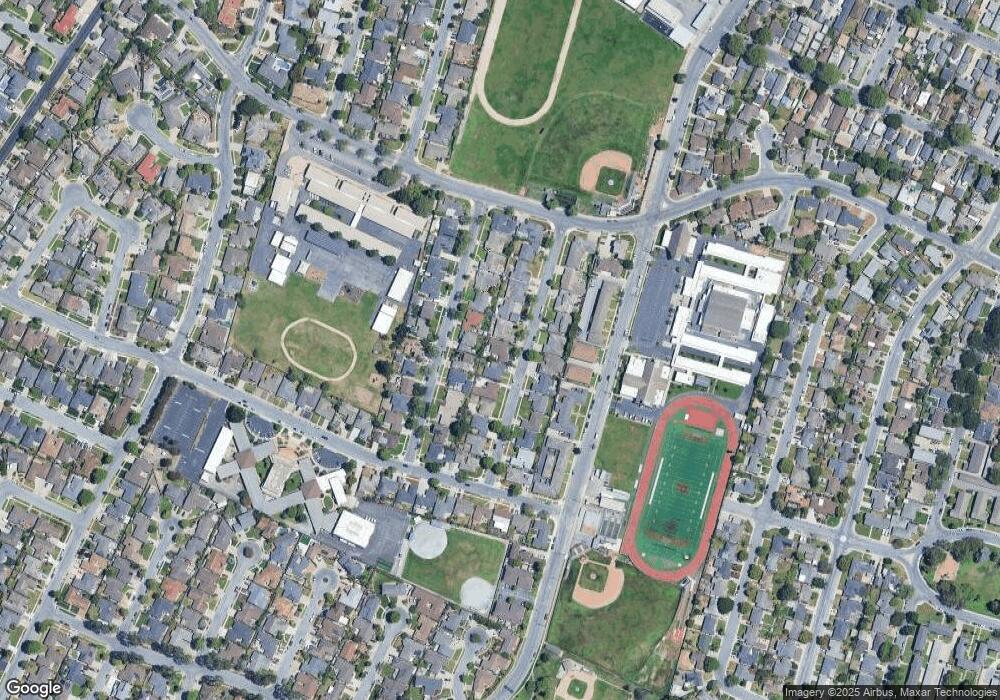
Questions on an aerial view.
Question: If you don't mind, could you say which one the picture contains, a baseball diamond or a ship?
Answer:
baseball diamond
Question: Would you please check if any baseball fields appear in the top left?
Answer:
No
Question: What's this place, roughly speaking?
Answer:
residential area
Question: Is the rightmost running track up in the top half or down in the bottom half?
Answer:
top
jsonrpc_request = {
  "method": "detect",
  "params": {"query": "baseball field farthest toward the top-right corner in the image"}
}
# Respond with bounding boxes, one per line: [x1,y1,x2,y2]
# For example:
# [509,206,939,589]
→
[579,150,633,201]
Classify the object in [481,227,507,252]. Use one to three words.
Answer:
house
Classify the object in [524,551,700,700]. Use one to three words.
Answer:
sports field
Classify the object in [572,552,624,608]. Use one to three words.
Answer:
baseball field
